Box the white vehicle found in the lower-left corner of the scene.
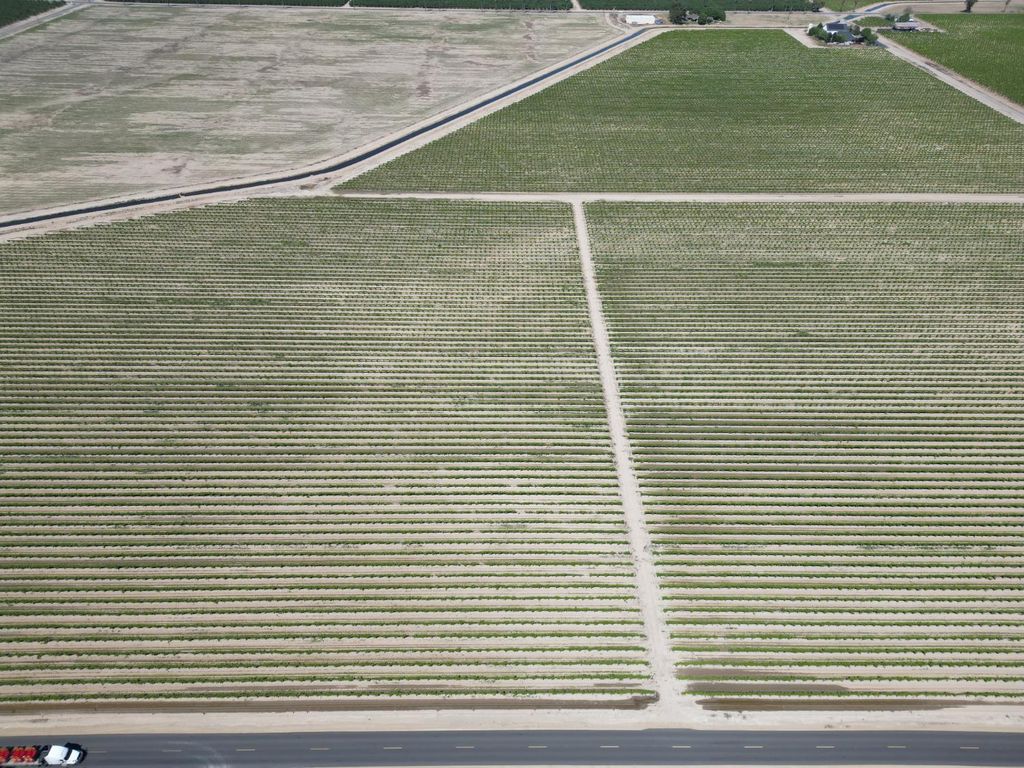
[33,745,87,766]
